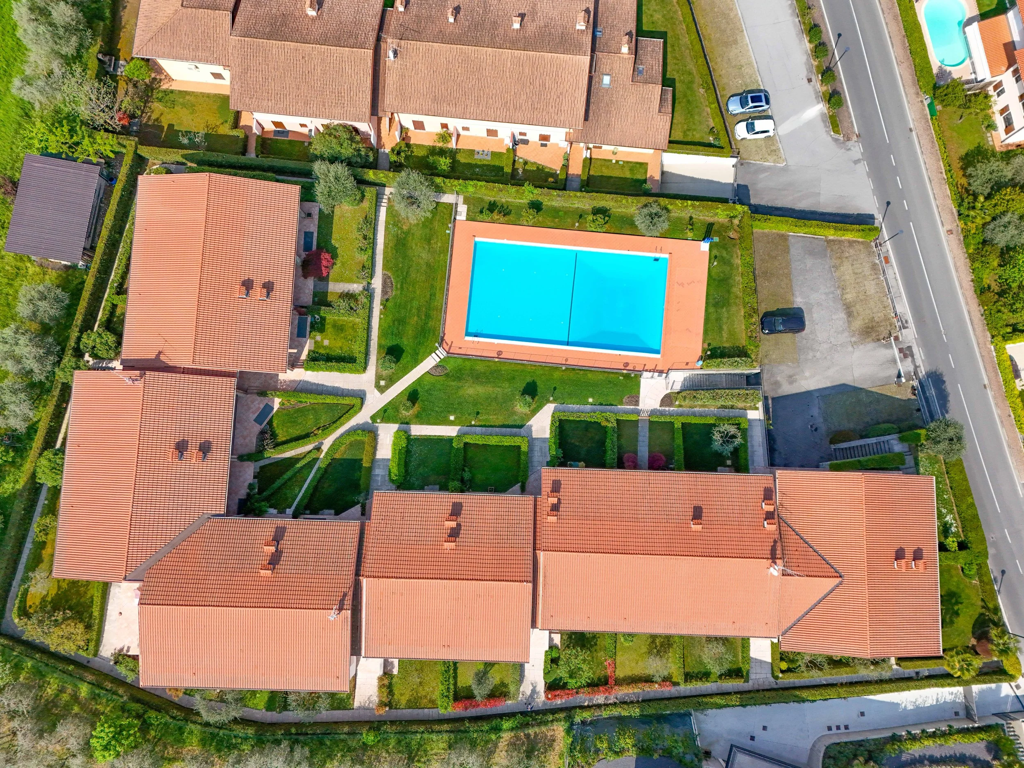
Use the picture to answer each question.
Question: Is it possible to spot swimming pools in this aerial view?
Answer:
Yes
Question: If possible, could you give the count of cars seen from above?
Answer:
3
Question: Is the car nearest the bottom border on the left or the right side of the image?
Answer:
right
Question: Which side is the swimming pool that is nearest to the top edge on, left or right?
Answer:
right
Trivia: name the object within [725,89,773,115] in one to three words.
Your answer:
car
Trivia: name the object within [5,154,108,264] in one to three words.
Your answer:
shed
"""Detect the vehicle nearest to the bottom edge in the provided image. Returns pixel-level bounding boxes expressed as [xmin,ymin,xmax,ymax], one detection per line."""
[762,313,807,335]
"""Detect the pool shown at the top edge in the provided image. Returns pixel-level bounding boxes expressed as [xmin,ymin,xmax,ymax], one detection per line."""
[923,0,966,67]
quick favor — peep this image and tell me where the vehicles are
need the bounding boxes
[725,89,773,115]
[733,119,777,142]
[762,313,807,335]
